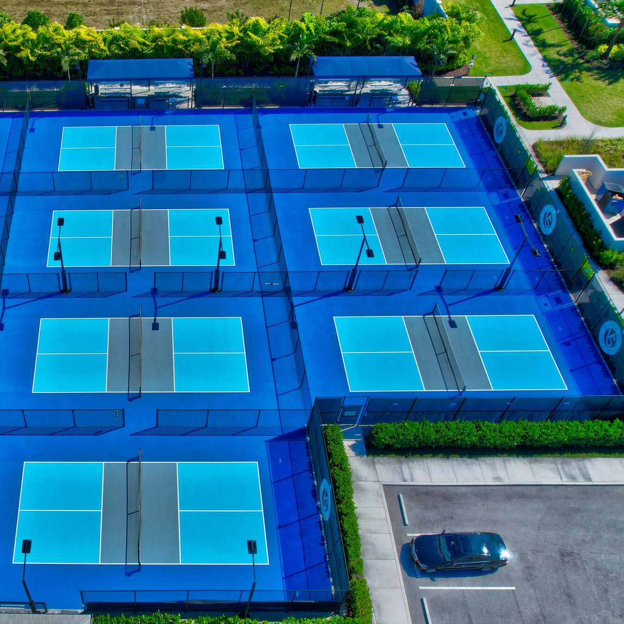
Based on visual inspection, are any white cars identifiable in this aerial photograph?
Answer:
No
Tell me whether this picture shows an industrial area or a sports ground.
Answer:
sports ground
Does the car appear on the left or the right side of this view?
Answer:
right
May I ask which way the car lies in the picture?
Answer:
from side to side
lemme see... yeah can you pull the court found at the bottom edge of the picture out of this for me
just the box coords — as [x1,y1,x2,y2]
[0,426,333,605]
